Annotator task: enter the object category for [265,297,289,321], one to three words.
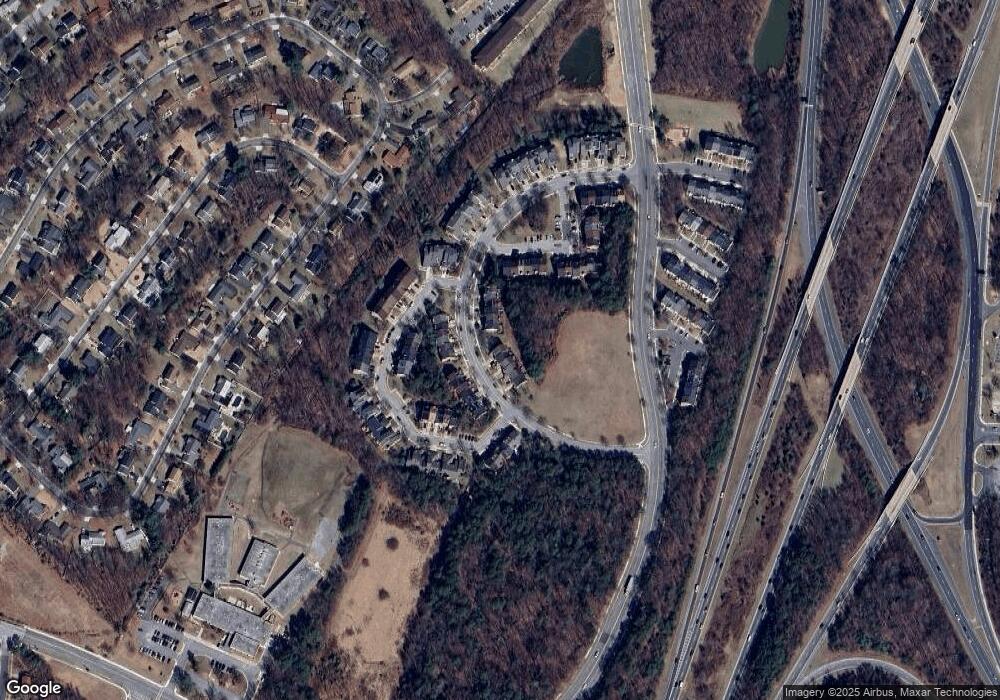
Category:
house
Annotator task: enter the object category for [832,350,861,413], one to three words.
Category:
overpass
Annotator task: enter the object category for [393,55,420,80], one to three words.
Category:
house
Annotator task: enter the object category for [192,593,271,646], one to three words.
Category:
building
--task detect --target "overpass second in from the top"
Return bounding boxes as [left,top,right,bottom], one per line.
[929,98,960,168]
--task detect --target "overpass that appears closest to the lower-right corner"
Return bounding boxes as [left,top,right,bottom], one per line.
[882,465,917,525]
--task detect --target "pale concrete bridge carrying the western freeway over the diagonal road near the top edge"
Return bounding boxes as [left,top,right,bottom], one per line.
[892,5,928,78]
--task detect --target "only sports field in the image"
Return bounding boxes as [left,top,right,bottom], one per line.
[262,428,346,519]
